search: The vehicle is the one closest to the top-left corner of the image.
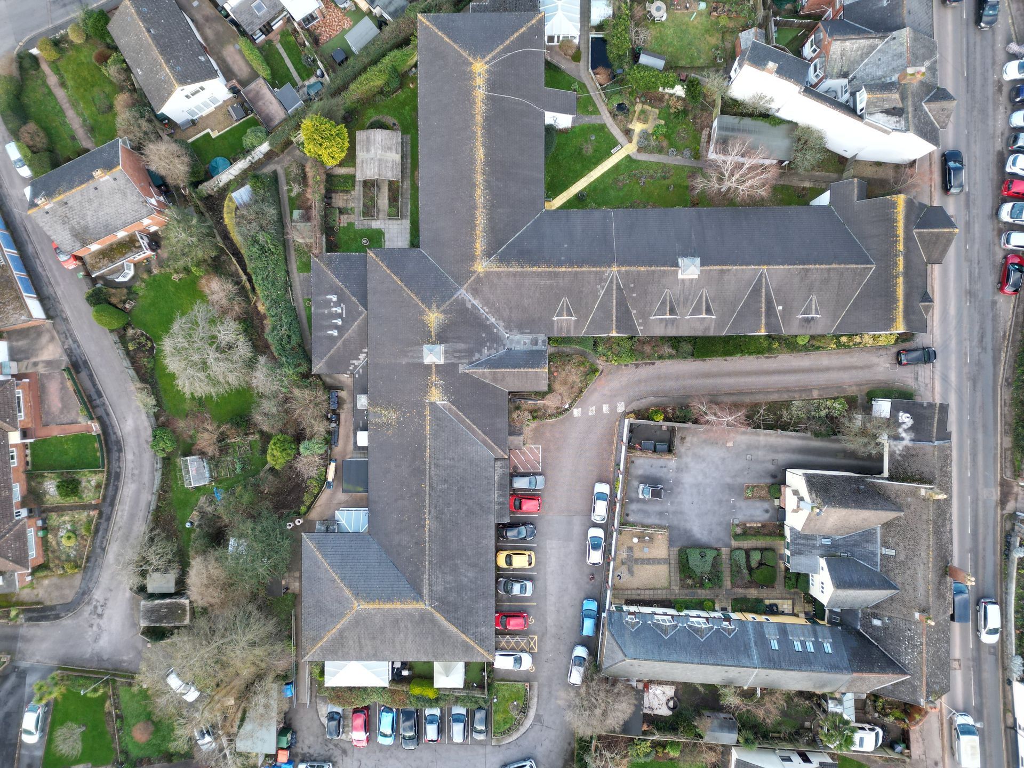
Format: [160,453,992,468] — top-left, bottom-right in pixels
[5,141,37,180]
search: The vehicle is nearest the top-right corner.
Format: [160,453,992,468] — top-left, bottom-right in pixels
[975,0,999,32]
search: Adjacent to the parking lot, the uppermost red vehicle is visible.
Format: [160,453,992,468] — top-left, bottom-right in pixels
[510,494,542,513]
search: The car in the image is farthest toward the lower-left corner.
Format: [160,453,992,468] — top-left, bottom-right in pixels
[21,702,47,742]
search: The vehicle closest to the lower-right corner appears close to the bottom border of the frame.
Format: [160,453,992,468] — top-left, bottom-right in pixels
[953,714,982,768]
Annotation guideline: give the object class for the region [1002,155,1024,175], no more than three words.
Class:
car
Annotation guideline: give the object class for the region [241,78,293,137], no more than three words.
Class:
building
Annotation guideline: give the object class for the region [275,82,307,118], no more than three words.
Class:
shed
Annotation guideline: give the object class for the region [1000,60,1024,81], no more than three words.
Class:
car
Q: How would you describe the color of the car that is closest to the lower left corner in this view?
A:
white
